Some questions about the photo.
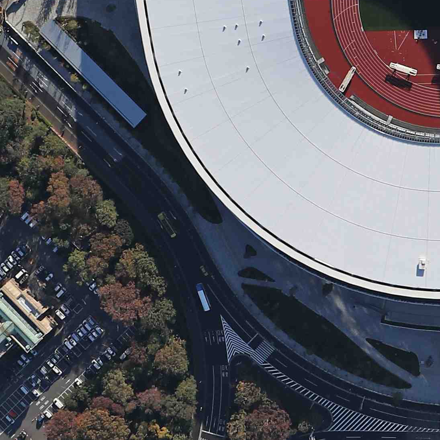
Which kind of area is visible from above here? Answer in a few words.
sports ground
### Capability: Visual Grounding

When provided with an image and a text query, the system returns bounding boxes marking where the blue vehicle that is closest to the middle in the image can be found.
[196,284,214,313]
